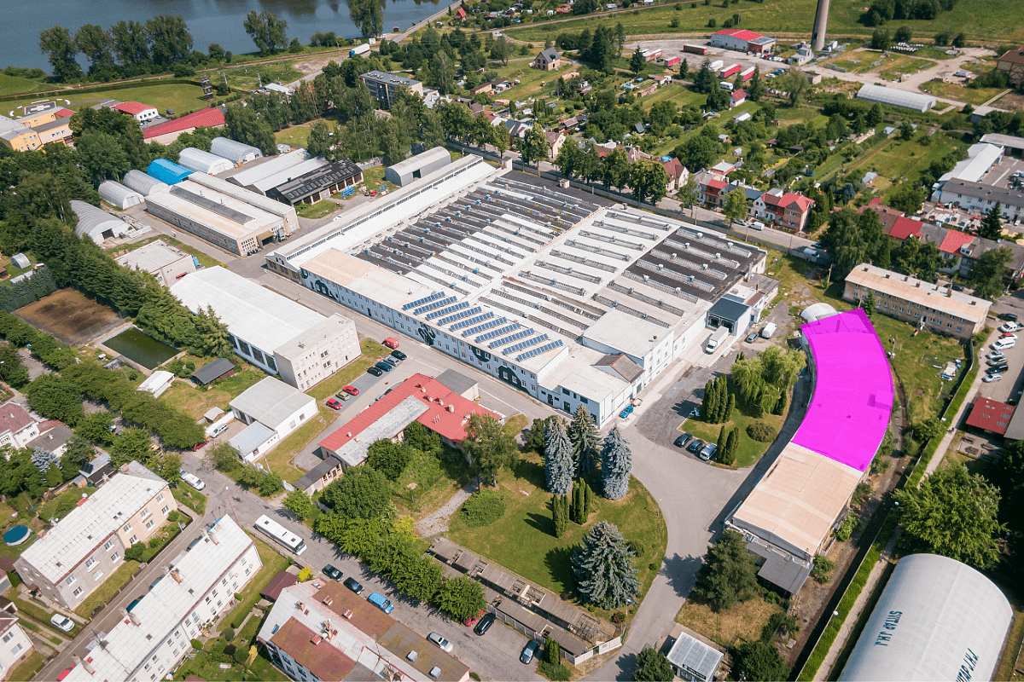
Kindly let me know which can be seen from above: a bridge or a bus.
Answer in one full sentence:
The one in the frame is a bus.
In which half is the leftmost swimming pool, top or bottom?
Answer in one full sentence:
The bottom half of the photo is where the leftmost swimming pool is.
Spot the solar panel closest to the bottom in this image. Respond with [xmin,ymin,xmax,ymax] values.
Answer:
[74,459,102,481]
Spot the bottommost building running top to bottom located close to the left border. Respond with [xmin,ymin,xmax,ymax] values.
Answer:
[0,602,33,676]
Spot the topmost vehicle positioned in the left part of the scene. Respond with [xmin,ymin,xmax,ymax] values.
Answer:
[349,40,372,57]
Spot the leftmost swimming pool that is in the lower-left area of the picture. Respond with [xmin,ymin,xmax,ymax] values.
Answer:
[0,521,31,544]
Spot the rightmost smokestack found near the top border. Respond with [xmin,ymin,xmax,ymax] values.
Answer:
[809,0,832,51]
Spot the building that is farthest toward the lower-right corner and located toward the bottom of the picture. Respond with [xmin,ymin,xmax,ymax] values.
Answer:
[832,550,1015,682]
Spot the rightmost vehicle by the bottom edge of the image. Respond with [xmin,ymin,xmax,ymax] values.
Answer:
[518,638,541,667]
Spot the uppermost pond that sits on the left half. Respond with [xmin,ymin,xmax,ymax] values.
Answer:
[97,324,177,372]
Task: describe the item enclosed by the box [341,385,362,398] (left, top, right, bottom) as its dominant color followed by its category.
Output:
red vehicle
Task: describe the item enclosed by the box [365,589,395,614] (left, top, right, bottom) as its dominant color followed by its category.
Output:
blue vehicle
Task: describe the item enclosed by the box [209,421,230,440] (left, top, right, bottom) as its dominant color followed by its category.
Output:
white car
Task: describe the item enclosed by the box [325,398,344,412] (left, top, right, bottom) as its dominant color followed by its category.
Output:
red car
